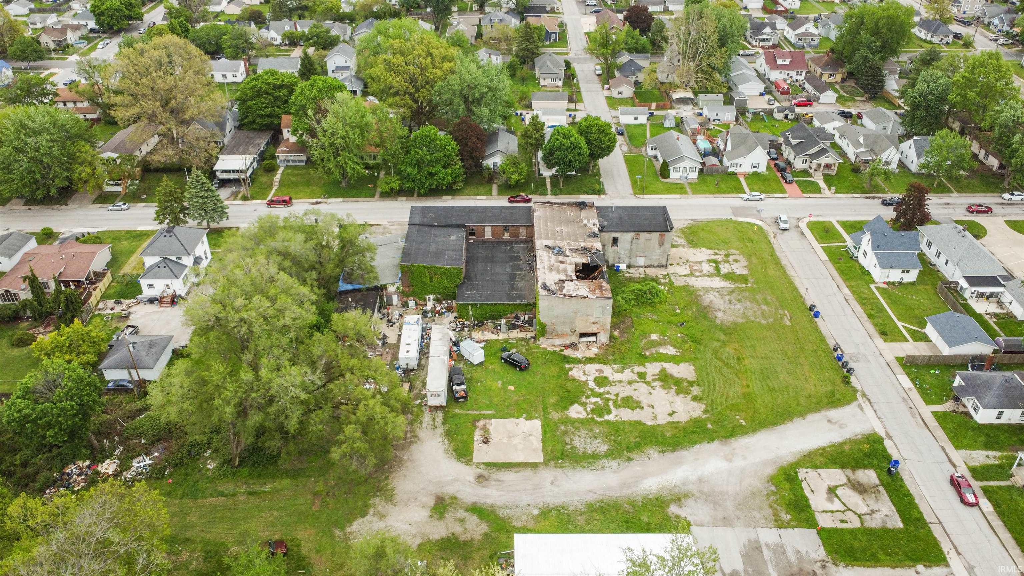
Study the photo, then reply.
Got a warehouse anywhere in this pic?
Yes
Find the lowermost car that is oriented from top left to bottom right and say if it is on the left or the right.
right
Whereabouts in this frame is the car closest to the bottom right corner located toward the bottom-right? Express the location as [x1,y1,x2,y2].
[948,473,981,511]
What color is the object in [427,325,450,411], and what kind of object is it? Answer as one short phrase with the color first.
white trailer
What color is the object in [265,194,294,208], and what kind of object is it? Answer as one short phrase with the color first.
red vehicle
